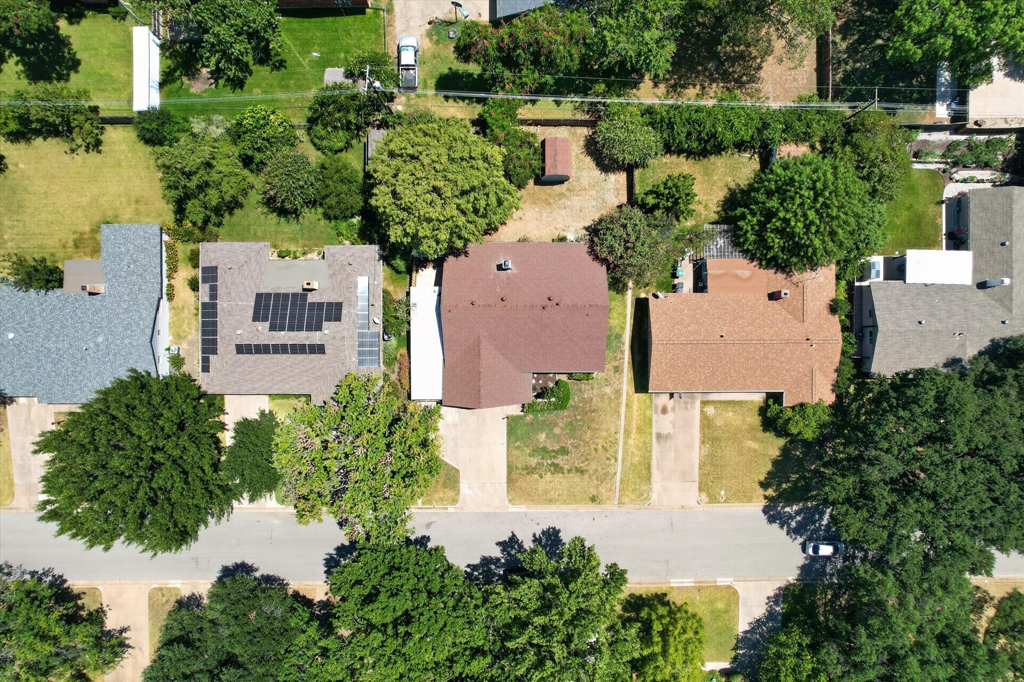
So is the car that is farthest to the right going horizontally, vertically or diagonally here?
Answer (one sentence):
In this picture, the car that is farthest to the right lies horizontally.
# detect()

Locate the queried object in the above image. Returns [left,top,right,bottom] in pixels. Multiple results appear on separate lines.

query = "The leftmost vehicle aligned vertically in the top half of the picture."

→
[397,39,419,92]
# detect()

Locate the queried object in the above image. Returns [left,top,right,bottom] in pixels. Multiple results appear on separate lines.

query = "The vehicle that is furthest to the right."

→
[802,538,844,559]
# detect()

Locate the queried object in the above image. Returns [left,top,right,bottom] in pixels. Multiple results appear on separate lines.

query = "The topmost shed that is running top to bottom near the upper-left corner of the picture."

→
[133,26,160,116]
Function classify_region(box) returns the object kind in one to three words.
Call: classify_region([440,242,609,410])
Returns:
house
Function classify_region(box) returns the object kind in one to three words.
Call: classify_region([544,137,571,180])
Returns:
shed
